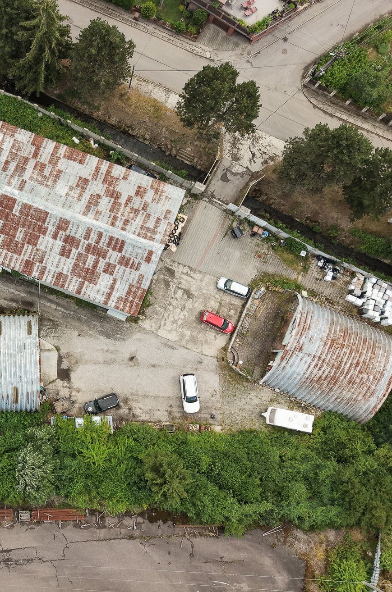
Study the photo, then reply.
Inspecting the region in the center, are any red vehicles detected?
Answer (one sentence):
Yes, a red vehicle can be seen in the center.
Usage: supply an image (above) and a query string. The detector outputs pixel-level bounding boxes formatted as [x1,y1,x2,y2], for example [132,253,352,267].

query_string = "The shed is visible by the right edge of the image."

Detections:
[263,295,392,421]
